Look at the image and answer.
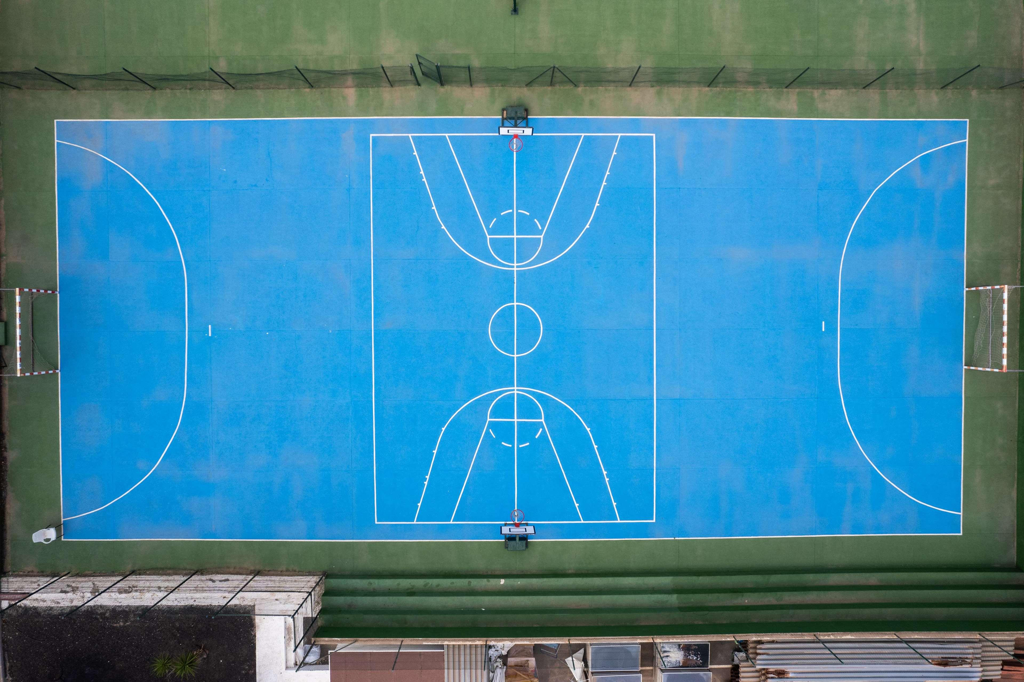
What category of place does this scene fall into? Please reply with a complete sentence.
This looks like a sports ground.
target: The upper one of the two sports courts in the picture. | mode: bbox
[0,0,1024,86]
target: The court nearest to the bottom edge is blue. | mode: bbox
[0,86,1024,573]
